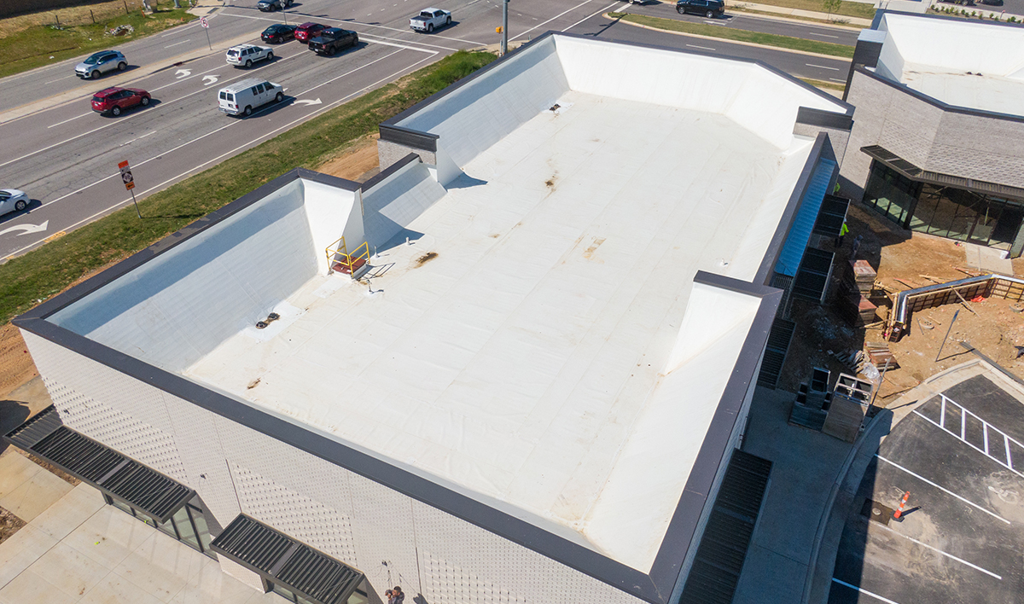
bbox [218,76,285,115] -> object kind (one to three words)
van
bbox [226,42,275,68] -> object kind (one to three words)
car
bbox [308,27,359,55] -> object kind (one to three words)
truck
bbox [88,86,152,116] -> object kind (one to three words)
car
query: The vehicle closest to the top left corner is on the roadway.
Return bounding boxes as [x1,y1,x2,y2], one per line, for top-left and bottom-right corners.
[71,48,128,79]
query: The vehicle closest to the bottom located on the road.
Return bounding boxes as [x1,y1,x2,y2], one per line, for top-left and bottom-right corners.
[0,188,32,216]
